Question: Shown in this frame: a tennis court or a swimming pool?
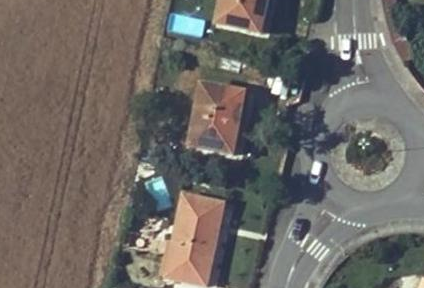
swimming pool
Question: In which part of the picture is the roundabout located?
right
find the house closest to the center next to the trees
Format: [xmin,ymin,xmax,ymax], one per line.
[184,78,246,160]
